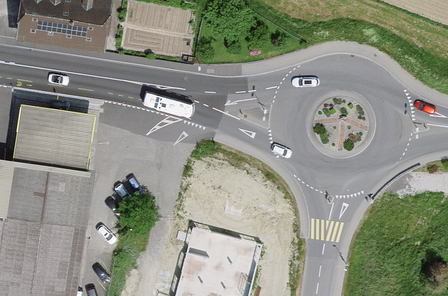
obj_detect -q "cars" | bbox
[50,74,70,85]
[294,76,320,88]
[98,224,116,242]
[87,286,98,296]
[104,194,120,213]
[273,144,292,157]
[414,101,436,114]
[128,174,144,193]
[94,262,110,282]
[114,180,131,199]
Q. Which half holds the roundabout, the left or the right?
right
